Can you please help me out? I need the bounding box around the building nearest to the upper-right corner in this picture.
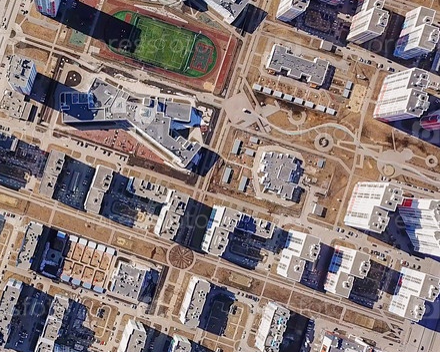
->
[395,7,439,59]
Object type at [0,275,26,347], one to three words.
building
